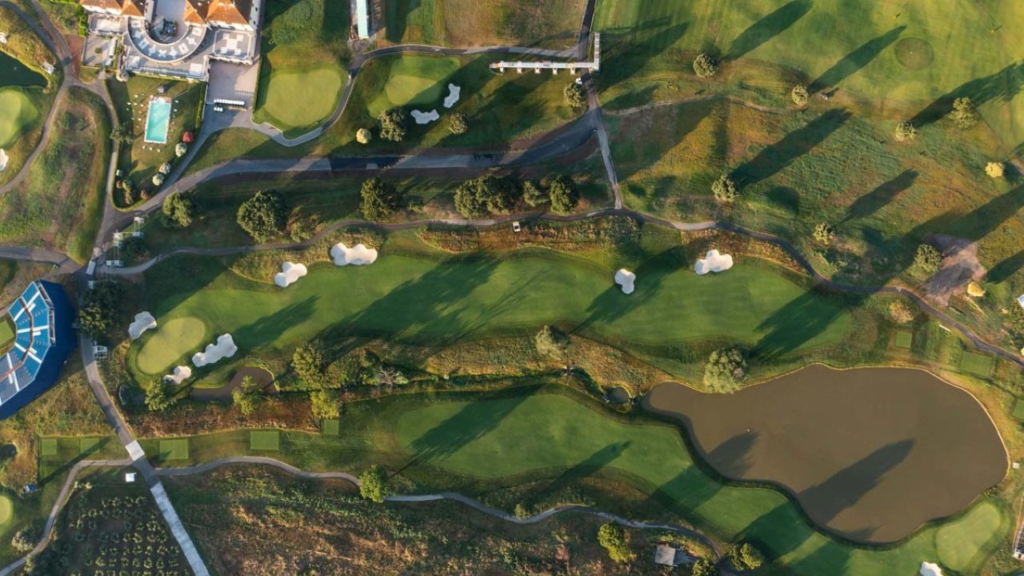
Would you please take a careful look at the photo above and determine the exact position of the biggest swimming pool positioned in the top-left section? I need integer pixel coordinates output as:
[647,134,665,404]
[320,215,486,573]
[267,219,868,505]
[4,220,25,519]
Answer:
[143,93,173,145]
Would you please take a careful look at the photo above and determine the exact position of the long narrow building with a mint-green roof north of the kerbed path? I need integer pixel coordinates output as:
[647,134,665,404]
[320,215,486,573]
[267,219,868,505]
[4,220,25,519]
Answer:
[350,0,386,38]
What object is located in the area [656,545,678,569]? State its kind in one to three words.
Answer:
shed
